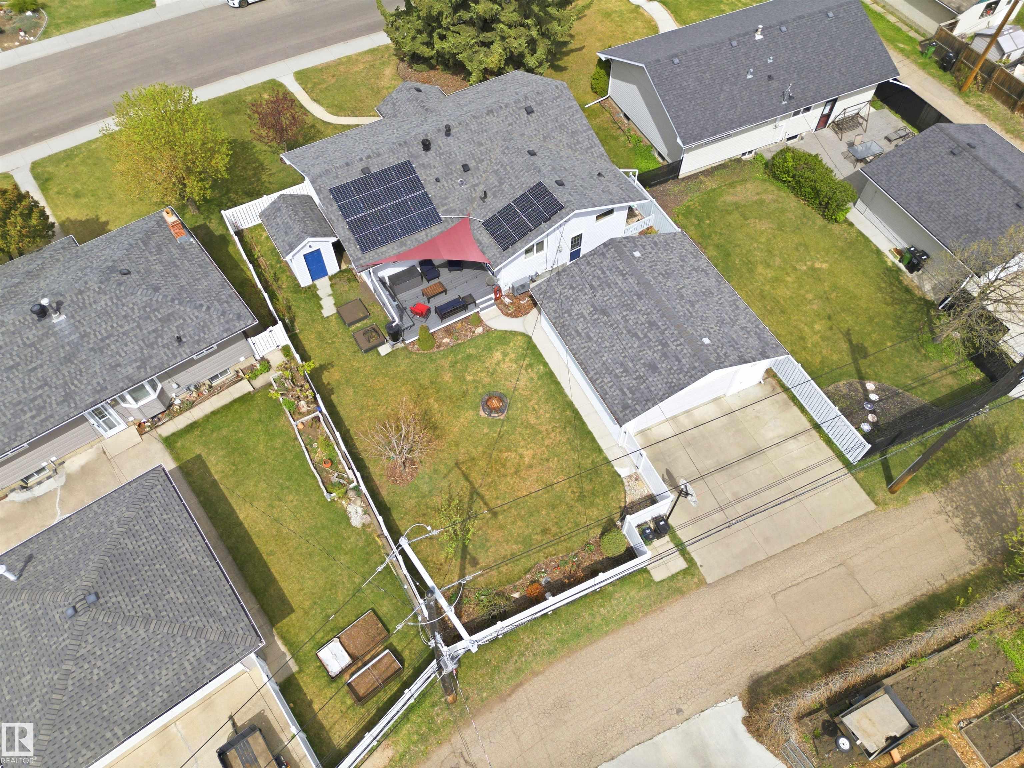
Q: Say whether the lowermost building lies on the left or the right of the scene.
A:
left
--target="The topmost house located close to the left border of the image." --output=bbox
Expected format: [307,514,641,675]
[0,205,261,496]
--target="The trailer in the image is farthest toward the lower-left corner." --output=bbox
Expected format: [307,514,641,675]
[213,714,290,768]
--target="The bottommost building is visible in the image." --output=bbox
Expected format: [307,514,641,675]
[0,461,270,768]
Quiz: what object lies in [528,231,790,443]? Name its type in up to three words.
building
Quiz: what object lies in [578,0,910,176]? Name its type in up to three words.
house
